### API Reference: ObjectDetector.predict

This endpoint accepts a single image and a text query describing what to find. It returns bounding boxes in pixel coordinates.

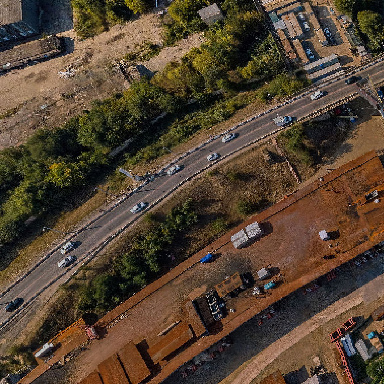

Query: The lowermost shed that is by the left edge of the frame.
[0,34,65,78]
